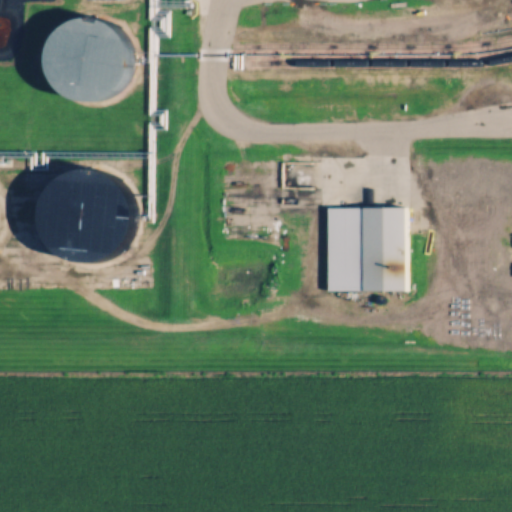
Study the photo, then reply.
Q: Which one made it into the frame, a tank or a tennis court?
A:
tank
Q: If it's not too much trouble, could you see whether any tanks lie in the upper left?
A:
Yes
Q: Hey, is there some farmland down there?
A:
Yes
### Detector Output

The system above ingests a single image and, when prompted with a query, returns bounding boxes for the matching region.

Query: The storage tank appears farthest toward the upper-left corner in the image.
[42,16,135,104]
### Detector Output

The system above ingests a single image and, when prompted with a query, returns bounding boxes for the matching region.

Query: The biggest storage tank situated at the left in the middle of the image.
[36,168,138,263]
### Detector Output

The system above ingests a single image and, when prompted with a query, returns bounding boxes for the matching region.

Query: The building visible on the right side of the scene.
[327,207,410,291]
